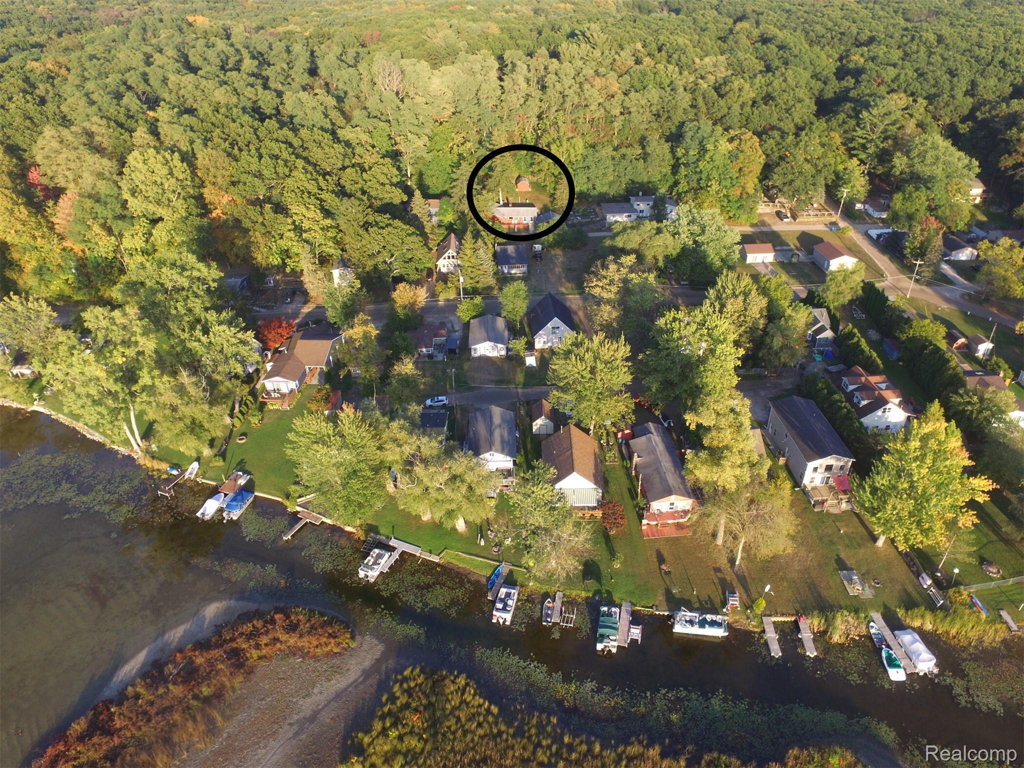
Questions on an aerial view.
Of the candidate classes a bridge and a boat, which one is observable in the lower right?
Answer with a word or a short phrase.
boat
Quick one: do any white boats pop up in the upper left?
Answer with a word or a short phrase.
No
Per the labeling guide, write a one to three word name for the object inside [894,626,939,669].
boat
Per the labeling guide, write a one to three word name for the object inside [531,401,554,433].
shed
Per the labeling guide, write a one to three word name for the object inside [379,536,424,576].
pier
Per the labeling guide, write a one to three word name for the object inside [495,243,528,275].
house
